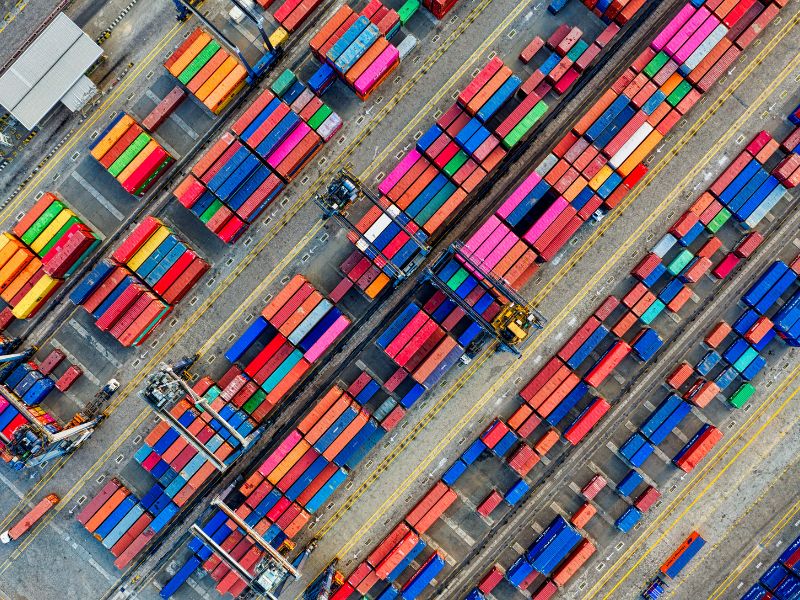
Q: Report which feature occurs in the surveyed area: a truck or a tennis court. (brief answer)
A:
truck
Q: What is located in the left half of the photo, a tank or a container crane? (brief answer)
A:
container crane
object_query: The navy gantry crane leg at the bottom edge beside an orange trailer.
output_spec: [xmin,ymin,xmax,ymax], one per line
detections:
[297,550,346,600]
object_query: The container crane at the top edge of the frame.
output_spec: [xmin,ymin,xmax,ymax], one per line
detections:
[170,0,287,91]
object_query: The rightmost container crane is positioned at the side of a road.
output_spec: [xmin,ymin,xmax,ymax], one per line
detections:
[421,238,545,352]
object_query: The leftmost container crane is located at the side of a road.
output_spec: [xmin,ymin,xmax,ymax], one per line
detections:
[0,341,112,476]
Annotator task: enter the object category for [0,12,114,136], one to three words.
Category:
warehouse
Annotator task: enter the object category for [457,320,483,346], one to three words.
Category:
shipping container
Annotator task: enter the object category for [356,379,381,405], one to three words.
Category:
shipping container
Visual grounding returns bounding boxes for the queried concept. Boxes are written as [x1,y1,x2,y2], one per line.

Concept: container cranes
[0,341,112,476]
[316,166,435,286]
[191,466,324,600]
[170,0,287,91]
[138,347,277,474]
[297,550,346,600]
[421,238,545,352]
